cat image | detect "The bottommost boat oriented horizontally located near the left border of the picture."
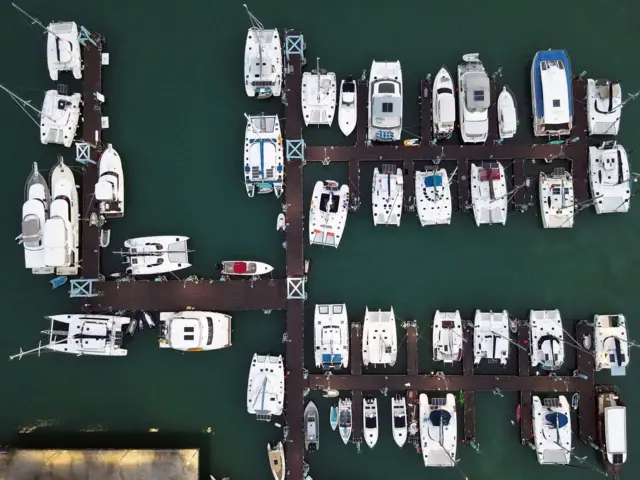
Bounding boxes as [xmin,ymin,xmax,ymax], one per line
[4,314,134,361]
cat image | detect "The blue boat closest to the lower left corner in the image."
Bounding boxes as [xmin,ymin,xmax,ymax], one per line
[49,276,66,289]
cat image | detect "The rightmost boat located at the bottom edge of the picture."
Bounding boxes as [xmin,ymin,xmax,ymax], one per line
[594,382,627,480]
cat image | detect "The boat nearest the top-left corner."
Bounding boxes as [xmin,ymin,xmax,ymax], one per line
[9,1,86,84]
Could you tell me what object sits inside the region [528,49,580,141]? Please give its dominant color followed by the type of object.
white ship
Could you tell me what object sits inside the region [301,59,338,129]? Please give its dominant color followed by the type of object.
white boat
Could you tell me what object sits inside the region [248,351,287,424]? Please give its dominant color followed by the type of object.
white boat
